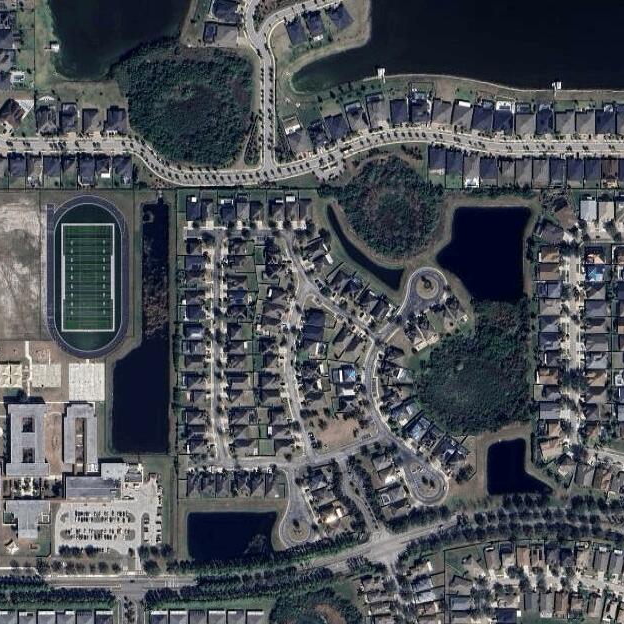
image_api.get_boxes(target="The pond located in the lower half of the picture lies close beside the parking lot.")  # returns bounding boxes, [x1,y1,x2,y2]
[187,512,279,560]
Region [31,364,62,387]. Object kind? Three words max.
basketball court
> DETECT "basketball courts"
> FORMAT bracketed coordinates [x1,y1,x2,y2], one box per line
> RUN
[70,363,104,401]
[31,364,62,387]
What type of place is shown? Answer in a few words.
residential area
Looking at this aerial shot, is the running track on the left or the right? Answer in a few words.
left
